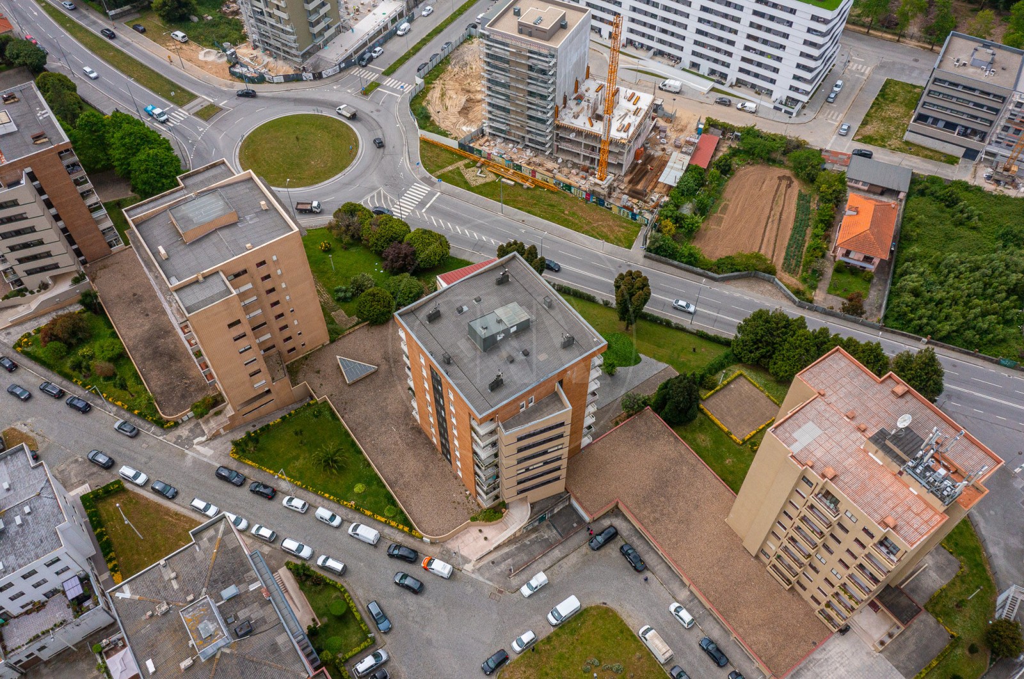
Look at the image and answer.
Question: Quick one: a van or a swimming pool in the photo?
van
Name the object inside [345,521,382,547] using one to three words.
vehicle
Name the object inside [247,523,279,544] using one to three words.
car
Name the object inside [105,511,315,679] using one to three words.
building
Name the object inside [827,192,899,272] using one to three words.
house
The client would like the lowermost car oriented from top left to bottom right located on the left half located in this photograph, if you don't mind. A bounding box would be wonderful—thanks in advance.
[363,598,394,635]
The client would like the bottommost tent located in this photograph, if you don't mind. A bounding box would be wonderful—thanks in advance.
[107,648,142,679]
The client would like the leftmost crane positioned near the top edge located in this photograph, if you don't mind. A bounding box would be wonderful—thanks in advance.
[585,13,627,188]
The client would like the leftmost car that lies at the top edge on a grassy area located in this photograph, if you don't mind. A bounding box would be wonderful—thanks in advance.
[129,21,148,33]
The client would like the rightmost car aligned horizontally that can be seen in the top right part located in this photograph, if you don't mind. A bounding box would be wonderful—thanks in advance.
[852,148,874,160]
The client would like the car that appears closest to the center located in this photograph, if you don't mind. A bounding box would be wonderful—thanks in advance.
[541,256,564,272]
